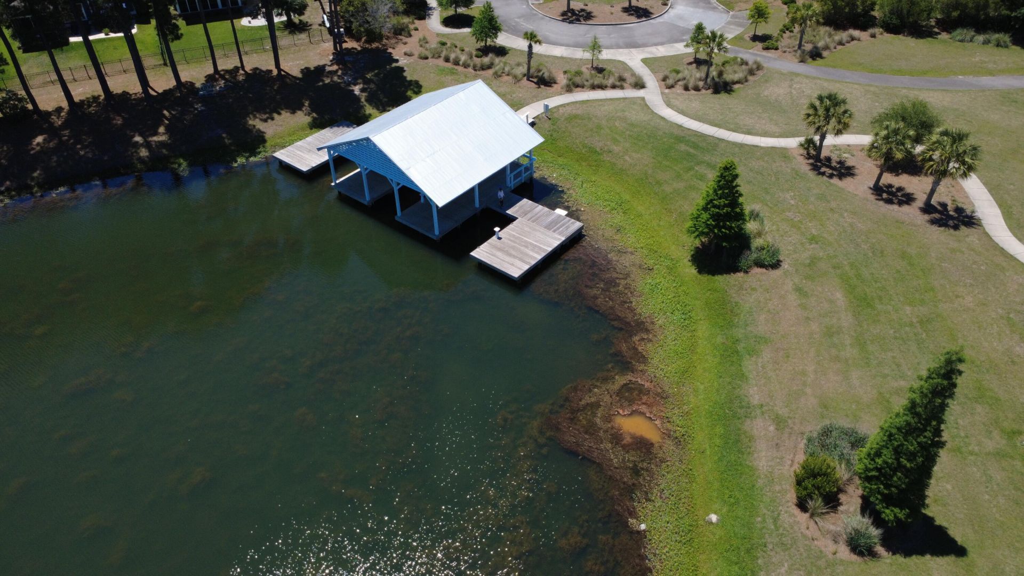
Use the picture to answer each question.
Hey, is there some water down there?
Yes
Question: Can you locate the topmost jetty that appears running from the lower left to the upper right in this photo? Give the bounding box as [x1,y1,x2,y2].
[273,121,372,177]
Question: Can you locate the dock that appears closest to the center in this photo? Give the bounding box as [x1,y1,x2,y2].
[470,198,584,289]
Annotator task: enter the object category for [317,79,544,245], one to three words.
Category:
building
